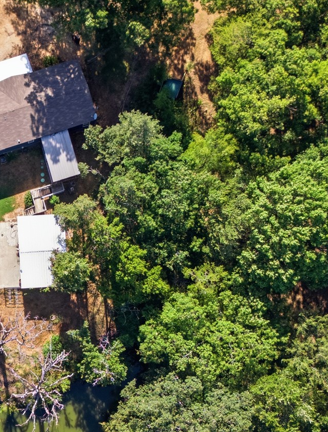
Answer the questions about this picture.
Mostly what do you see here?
trees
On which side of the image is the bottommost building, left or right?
left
